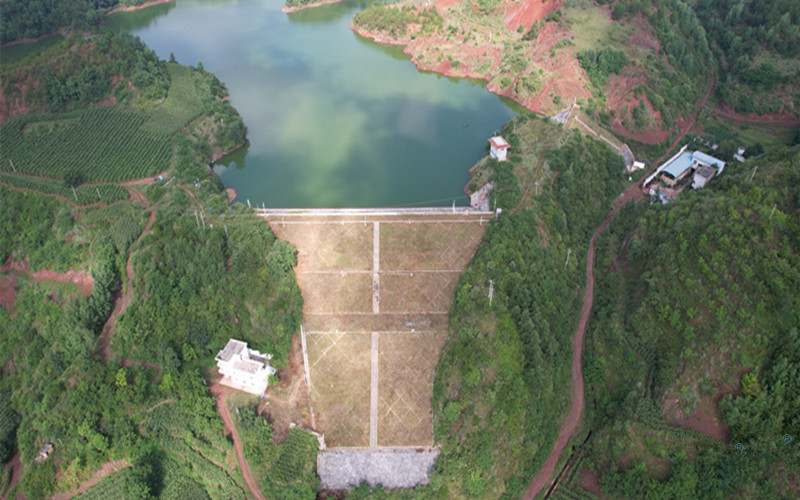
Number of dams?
1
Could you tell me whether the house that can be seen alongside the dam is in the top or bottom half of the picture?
bottom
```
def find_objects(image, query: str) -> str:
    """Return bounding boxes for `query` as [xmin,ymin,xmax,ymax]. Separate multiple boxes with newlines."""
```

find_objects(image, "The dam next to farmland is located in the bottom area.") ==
[252,207,498,491]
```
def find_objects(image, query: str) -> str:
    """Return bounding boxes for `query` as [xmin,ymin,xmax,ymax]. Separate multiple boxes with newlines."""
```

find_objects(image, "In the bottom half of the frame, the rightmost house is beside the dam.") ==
[216,344,279,402]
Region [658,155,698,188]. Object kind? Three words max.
building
